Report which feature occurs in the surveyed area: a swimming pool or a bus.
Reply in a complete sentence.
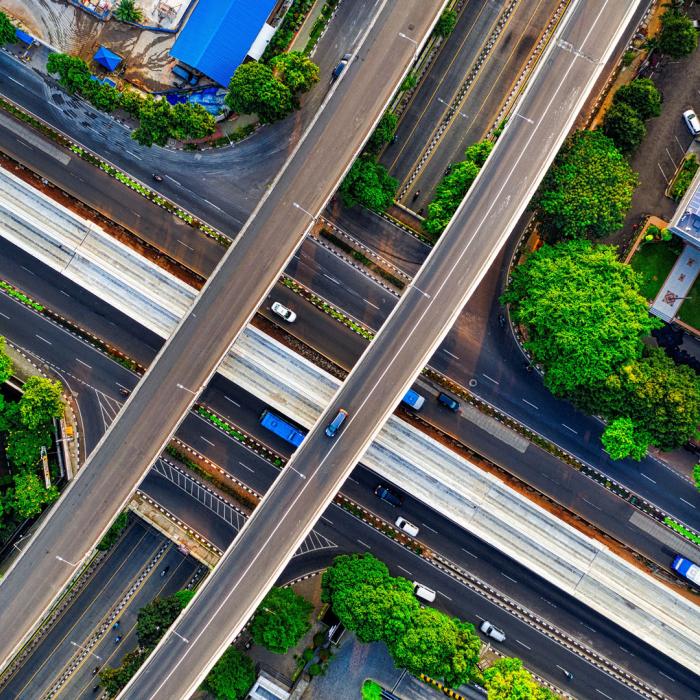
Of the two, only a bus appears.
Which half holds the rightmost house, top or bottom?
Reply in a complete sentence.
It is in the top half that the rightmost house appears.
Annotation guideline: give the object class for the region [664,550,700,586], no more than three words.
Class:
bus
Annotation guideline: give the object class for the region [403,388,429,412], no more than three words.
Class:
bus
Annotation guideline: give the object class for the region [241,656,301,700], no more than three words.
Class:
house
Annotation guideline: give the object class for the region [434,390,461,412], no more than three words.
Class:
car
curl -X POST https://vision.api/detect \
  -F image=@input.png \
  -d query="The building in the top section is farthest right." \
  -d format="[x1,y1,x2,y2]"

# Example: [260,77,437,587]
[662,174,700,255]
